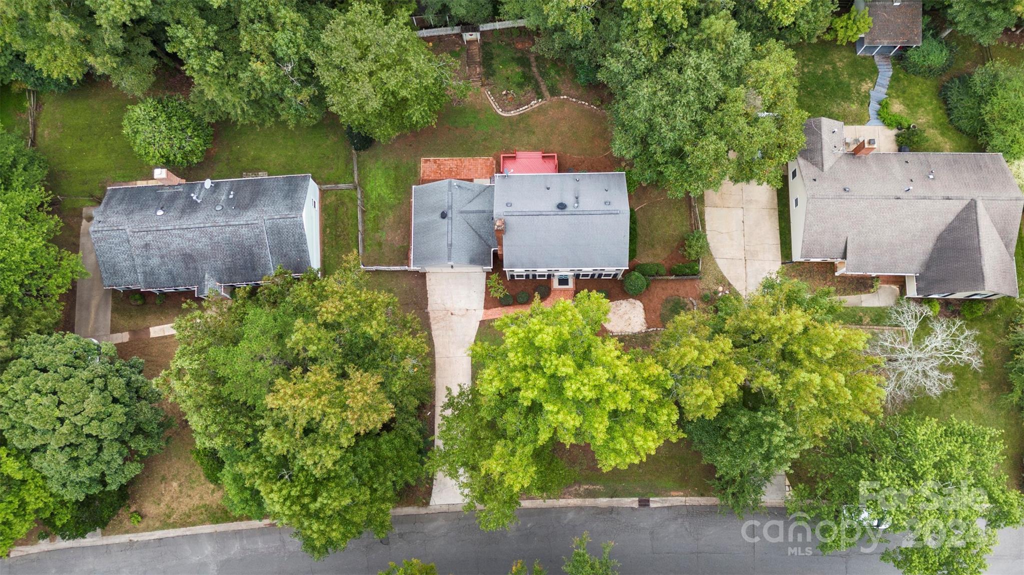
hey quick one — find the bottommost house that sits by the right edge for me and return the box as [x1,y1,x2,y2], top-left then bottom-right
[782,117,1024,302]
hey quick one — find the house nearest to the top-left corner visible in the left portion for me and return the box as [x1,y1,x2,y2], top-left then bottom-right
[90,168,324,296]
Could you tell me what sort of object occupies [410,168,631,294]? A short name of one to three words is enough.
house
